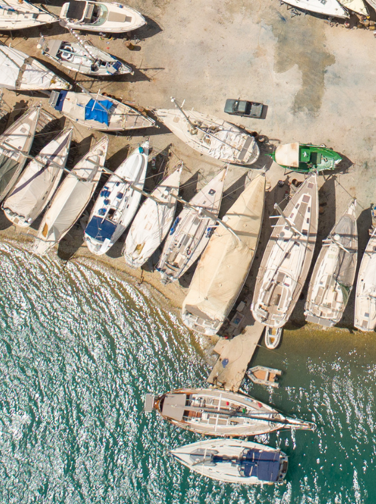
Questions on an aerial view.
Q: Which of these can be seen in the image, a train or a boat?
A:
boat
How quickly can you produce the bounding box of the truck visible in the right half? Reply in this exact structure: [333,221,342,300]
[226,96,268,120]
